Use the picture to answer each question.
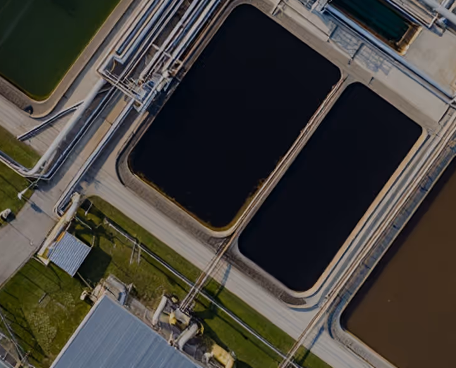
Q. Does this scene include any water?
Yes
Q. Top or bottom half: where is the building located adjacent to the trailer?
bottom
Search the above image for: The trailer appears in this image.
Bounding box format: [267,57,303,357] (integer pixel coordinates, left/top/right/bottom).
[209,338,247,368]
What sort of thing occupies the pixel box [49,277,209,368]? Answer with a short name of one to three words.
building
